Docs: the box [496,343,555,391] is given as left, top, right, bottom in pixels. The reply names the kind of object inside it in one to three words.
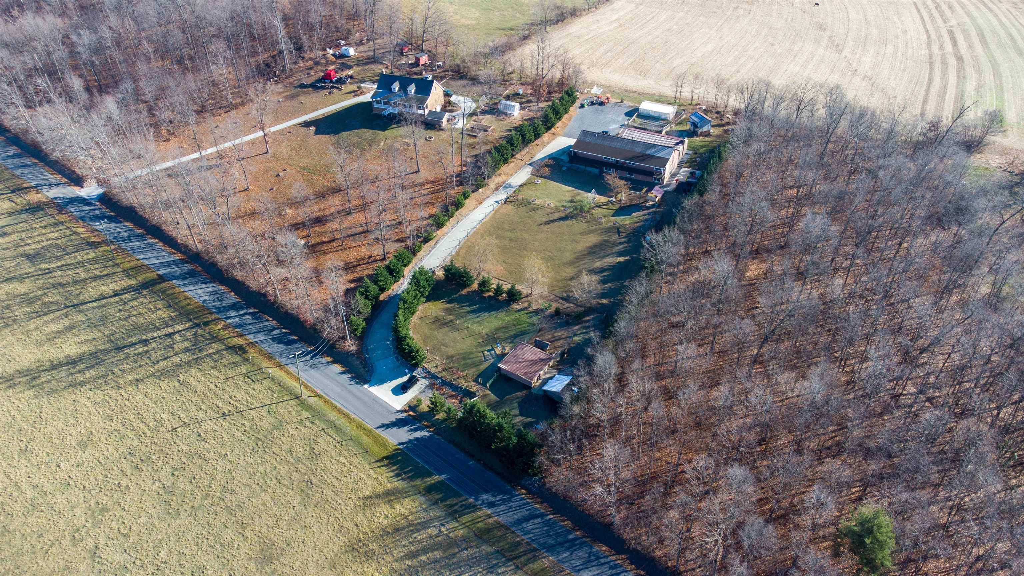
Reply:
barn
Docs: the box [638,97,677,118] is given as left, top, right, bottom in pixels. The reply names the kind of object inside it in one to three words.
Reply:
shed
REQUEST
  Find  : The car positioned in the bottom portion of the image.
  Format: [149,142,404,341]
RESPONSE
[400,371,419,393]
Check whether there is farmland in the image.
Yes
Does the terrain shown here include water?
No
